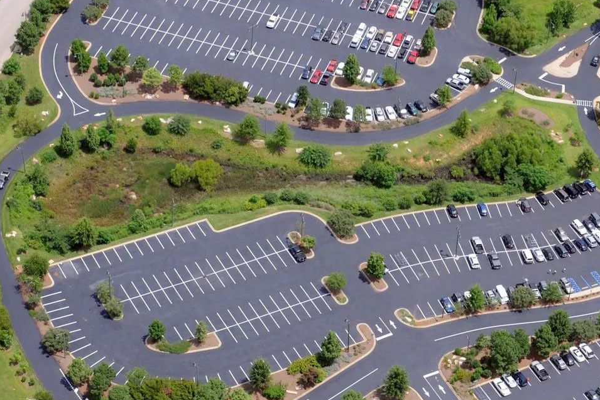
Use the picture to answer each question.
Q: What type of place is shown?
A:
parking lot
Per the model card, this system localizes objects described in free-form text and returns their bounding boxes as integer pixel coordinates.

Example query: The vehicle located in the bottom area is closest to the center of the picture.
[289,240,303,259]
